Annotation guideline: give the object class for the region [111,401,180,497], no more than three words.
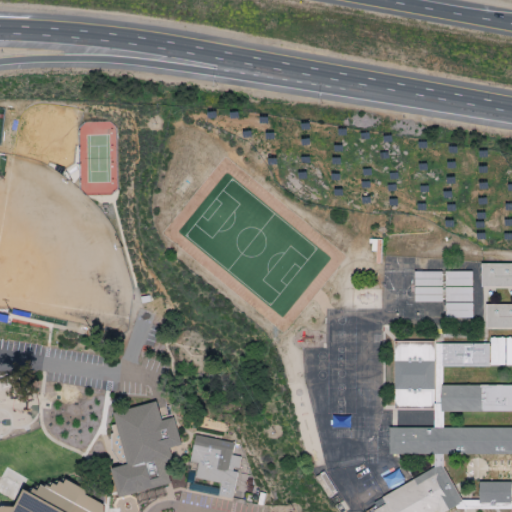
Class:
building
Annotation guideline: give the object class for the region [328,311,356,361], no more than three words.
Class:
basketball court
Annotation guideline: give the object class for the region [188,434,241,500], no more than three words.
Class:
building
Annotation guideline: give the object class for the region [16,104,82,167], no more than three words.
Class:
baseball field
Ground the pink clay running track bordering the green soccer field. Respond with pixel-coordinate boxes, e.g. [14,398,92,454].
[164,156,346,332]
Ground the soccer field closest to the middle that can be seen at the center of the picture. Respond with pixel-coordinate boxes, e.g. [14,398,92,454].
[180,173,330,317]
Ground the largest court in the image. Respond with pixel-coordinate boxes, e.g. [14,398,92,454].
[80,122,118,194]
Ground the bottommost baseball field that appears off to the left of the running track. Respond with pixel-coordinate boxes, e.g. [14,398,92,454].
[0,154,132,319]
